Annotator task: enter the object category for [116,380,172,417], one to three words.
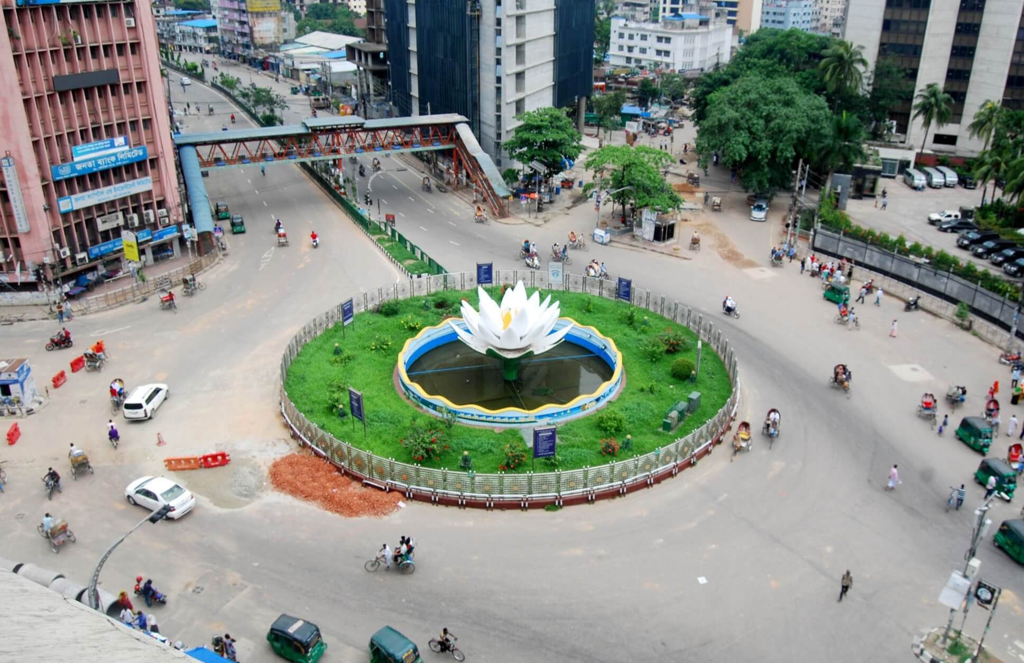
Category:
car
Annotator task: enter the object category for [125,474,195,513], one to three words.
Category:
car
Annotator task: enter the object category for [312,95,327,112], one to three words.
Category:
vehicle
